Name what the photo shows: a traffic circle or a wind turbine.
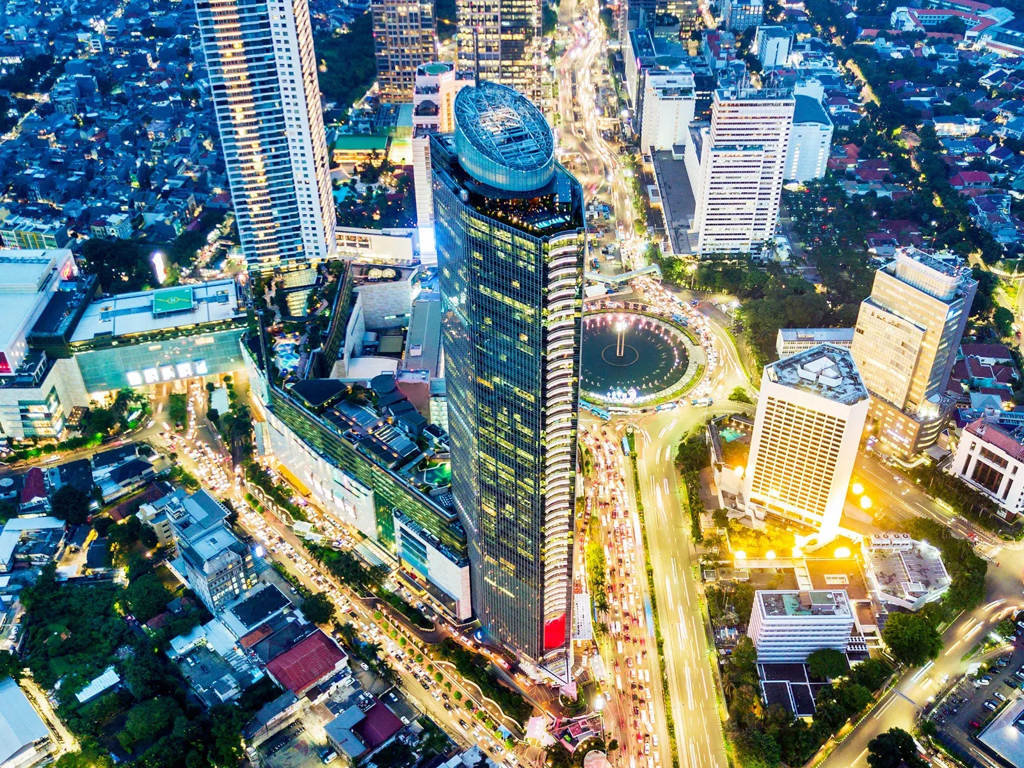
traffic circle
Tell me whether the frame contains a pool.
Yes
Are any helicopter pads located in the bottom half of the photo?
No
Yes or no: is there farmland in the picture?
No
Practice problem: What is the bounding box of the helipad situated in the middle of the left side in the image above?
[153,287,194,320]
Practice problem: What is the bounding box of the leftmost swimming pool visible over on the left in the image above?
[274,339,301,375]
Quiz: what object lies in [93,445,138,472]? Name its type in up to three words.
house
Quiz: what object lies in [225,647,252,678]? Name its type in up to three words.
house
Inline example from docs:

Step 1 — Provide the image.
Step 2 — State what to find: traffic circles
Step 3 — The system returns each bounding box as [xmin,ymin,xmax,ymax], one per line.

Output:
[578,276,766,450]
